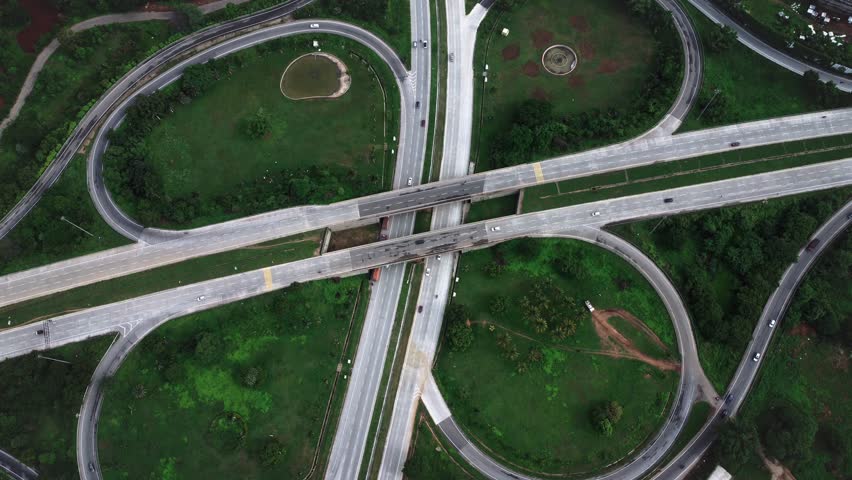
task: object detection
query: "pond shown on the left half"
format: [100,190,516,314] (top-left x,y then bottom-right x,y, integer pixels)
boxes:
[280,52,349,99]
